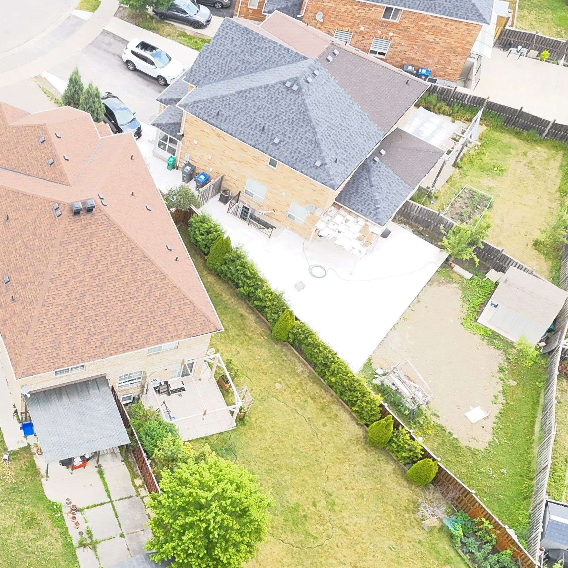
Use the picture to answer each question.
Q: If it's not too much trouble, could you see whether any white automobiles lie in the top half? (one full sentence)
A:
Yes, the scene does show a white automobile in the top half.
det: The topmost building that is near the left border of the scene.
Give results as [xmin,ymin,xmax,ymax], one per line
[0,102,225,422]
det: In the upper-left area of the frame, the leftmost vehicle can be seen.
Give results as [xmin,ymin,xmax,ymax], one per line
[97,85,149,135]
